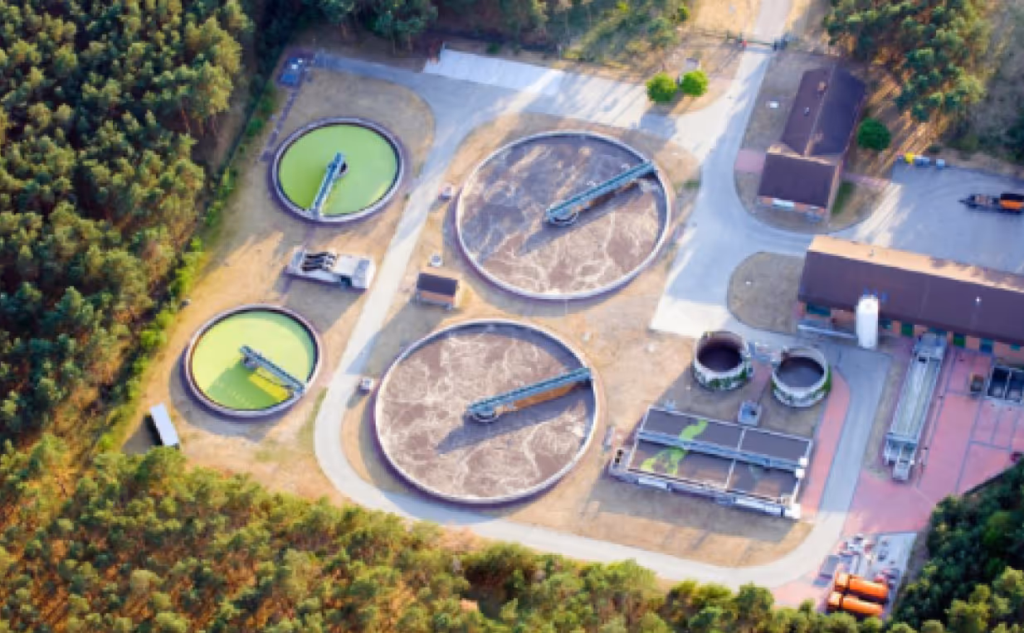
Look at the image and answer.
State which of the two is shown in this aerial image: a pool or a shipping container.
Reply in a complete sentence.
The image shows a shipping container.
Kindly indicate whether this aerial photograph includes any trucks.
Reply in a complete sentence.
Yes, you can see a truck in this photo.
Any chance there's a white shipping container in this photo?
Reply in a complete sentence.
Yes, the picture does show a white shipping container.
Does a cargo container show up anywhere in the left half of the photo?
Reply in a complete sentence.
Yes, I can see a cargo container in the left half of the photo.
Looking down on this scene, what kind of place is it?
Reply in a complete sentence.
This looks like an industrial area.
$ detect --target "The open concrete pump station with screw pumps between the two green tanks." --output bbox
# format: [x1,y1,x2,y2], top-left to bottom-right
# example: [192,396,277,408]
[290,237,376,292]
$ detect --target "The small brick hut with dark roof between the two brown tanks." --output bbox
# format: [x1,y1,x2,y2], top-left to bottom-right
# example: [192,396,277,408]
[417,269,459,308]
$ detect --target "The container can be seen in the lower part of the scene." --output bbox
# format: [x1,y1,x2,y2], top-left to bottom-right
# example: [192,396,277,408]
[149,401,180,457]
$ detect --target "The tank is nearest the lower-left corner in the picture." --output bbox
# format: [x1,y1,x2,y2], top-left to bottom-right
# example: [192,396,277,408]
[180,306,329,426]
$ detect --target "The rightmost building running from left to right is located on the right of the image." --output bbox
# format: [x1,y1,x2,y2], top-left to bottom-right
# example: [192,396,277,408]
[794,235,1024,365]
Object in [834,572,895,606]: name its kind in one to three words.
truck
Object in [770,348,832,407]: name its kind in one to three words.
storage tank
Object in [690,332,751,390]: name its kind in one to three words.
storage tank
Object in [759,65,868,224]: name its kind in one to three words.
building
